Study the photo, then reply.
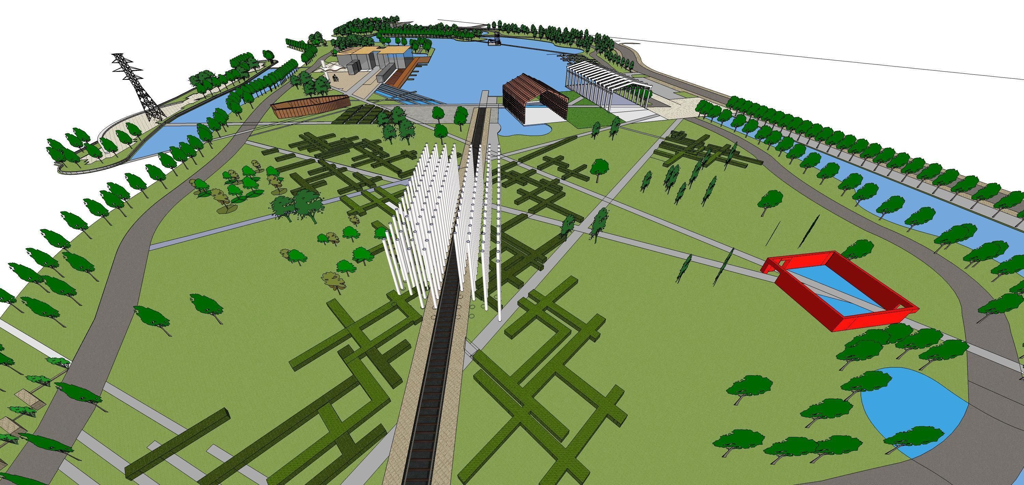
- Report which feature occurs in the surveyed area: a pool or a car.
pool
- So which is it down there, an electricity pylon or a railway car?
electricity pylon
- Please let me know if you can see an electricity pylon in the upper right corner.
No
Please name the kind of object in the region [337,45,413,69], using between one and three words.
building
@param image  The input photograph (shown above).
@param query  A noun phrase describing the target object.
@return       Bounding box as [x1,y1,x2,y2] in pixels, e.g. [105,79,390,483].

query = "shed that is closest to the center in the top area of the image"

[502,75,569,125]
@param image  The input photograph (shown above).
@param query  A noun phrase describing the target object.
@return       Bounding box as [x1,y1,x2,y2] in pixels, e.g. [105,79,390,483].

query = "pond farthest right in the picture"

[861,366,970,459]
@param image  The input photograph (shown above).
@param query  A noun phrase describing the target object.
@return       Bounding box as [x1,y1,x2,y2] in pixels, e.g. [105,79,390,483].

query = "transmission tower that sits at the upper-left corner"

[110,53,168,121]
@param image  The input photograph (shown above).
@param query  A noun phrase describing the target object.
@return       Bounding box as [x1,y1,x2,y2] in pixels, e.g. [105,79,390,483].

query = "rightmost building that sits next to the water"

[565,60,654,111]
